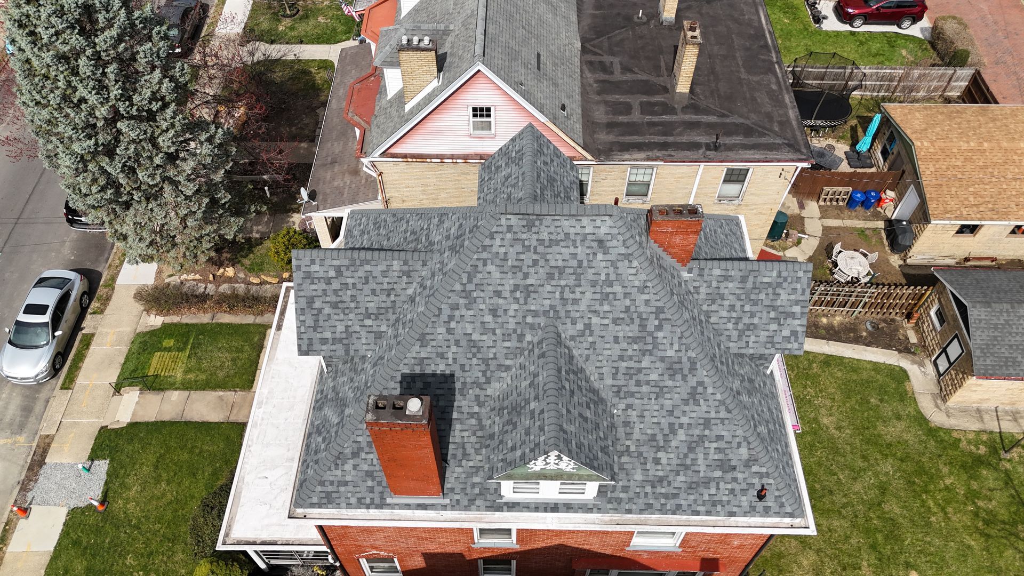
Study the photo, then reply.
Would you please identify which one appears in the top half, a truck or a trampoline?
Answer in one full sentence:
There is a trampoline in the top half.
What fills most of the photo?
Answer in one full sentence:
Most of the picture is covered by buildings.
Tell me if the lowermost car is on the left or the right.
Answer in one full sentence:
The lowermost car is on the left side of the image.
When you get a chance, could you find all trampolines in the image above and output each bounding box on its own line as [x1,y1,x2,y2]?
[780,51,871,135]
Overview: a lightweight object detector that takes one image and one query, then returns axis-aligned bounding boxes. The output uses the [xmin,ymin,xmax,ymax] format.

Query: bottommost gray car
[4,271,92,386]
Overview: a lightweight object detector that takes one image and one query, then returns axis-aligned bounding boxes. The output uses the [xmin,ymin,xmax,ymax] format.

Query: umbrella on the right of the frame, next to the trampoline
[838,111,880,169]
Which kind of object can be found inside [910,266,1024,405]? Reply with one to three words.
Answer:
building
